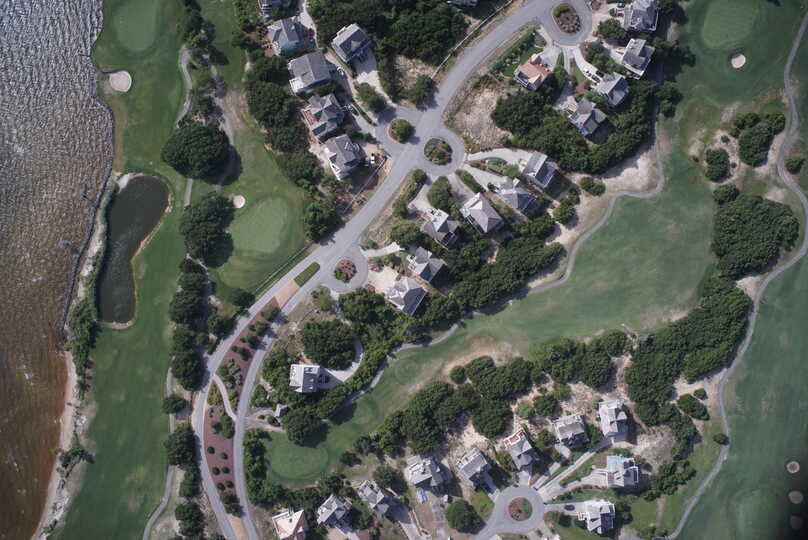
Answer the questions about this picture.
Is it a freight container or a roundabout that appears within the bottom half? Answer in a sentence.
There is a roundabout within the bottom half.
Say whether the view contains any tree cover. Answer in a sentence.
Yes, some tree cover is visible.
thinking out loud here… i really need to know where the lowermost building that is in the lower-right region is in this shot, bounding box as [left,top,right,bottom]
[578,497,615,531]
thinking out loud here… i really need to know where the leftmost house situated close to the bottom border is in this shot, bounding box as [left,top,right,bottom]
[274,502,312,540]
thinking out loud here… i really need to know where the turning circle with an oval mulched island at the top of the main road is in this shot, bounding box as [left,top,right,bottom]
[537,0,593,46]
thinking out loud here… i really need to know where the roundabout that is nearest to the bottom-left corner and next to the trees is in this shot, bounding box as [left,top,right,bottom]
[322,247,369,294]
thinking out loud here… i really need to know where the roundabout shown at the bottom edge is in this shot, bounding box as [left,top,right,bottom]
[496,484,545,534]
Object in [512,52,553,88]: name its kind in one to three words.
house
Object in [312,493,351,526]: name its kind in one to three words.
house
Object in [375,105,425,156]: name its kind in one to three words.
roundabout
